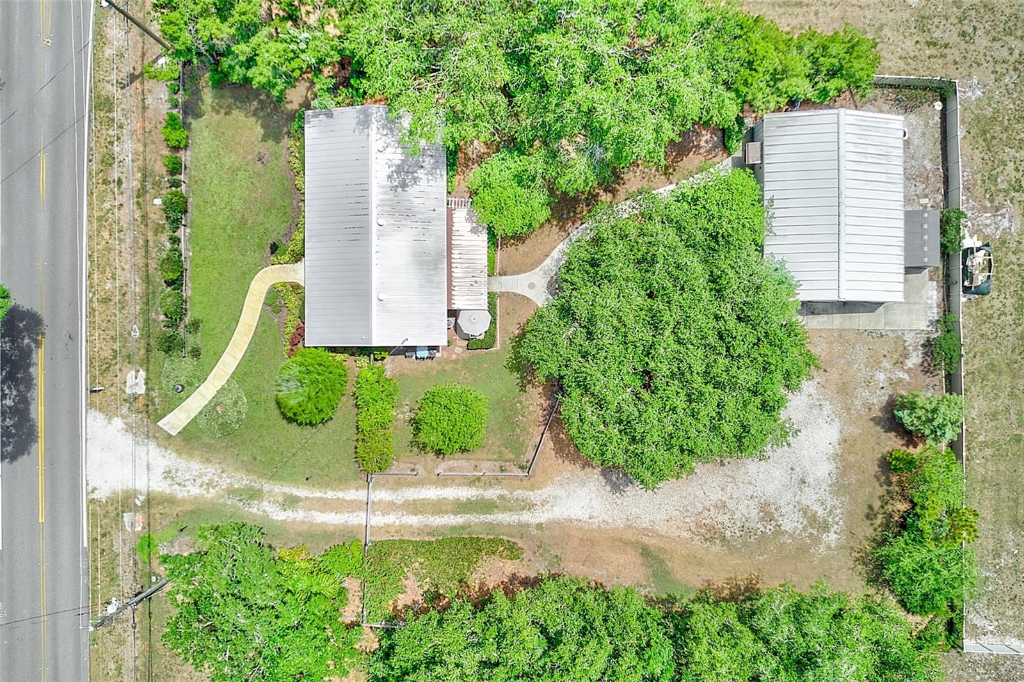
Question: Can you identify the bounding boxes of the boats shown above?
[964,240,994,295]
